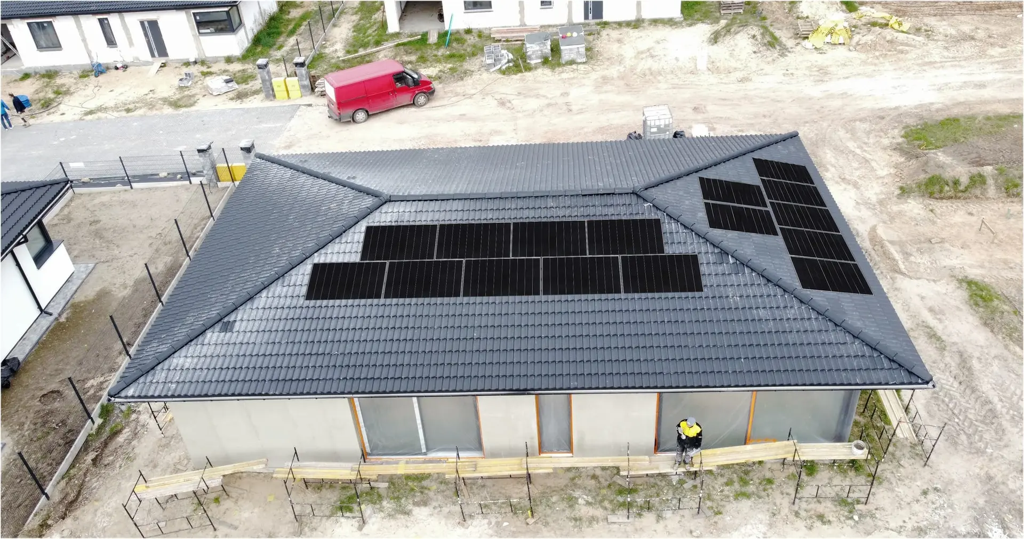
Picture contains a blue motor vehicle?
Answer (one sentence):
No, no blue motor vehicle is visible in the scene.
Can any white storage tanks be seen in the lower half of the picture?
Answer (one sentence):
No, looking in the lower half of the picture, there is no white storage tank.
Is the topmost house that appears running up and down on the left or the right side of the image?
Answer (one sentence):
The topmost house that appears running up and down is on the left side of the image.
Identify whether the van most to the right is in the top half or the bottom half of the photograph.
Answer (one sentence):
The van most to the right sits in the top half of the picture.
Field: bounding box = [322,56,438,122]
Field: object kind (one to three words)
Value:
van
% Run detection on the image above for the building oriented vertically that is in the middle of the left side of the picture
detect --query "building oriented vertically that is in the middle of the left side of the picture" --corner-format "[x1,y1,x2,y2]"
[0,179,74,361]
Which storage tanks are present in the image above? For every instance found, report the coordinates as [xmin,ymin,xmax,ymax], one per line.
[640,99,675,138]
